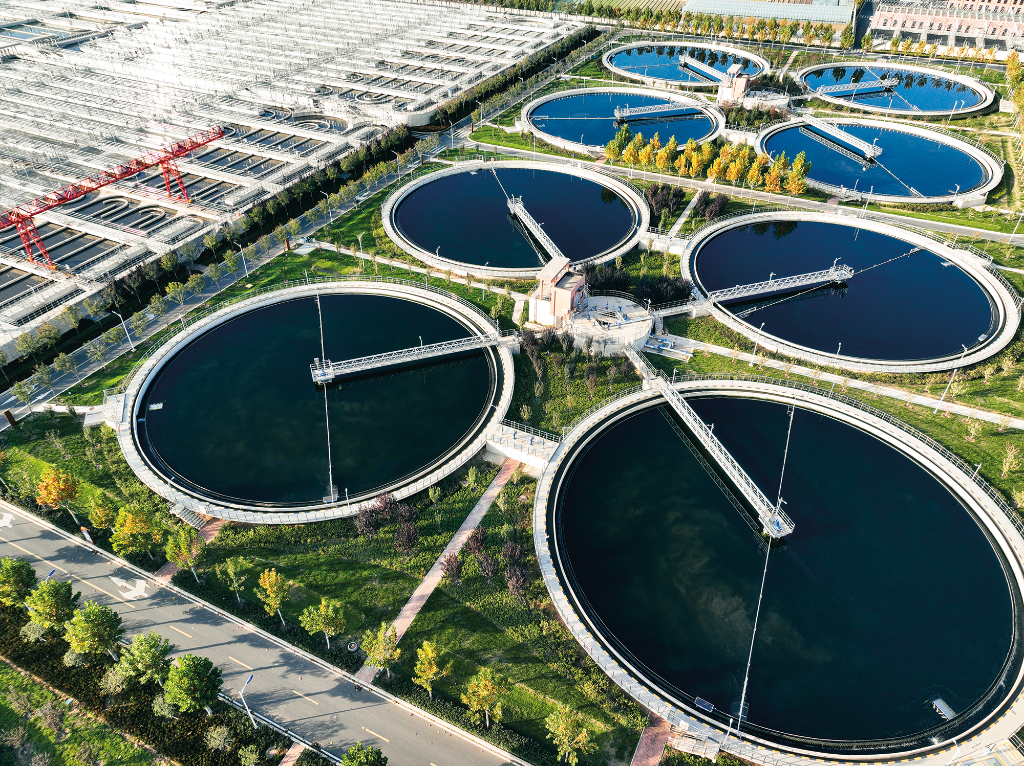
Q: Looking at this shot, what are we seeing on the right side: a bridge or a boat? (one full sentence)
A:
What appears on the right side is a bridge.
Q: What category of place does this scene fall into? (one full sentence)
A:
It's an industrial area.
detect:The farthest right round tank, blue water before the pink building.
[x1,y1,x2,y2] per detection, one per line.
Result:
[794,57,994,121]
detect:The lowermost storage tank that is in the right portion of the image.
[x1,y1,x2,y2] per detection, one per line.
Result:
[531,373,1024,766]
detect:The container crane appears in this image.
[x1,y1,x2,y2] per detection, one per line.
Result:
[0,125,224,269]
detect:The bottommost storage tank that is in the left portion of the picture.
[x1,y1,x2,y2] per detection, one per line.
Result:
[114,275,515,528]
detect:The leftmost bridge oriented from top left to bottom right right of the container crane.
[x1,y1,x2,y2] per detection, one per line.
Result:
[505,195,573,272]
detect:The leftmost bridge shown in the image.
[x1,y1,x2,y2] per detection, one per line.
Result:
[306,330,510,387]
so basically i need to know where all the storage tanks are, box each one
[680,205,1021,379]
[380,154,651,283]
[600,36,771,90]
[531,373,1024,766]
[518,81,725,159]
[794,57,994,121]
[114,275,515,528]
[752,112,1003,209]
